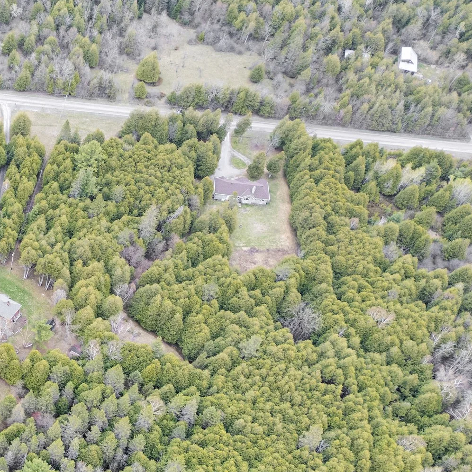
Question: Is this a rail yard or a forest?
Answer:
forest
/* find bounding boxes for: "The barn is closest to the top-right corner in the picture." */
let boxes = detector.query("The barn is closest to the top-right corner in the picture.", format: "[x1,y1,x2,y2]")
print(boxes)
[399,47,418,74]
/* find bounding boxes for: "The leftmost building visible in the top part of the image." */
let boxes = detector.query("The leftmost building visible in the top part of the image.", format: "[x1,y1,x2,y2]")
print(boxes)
[211,172,271,205]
